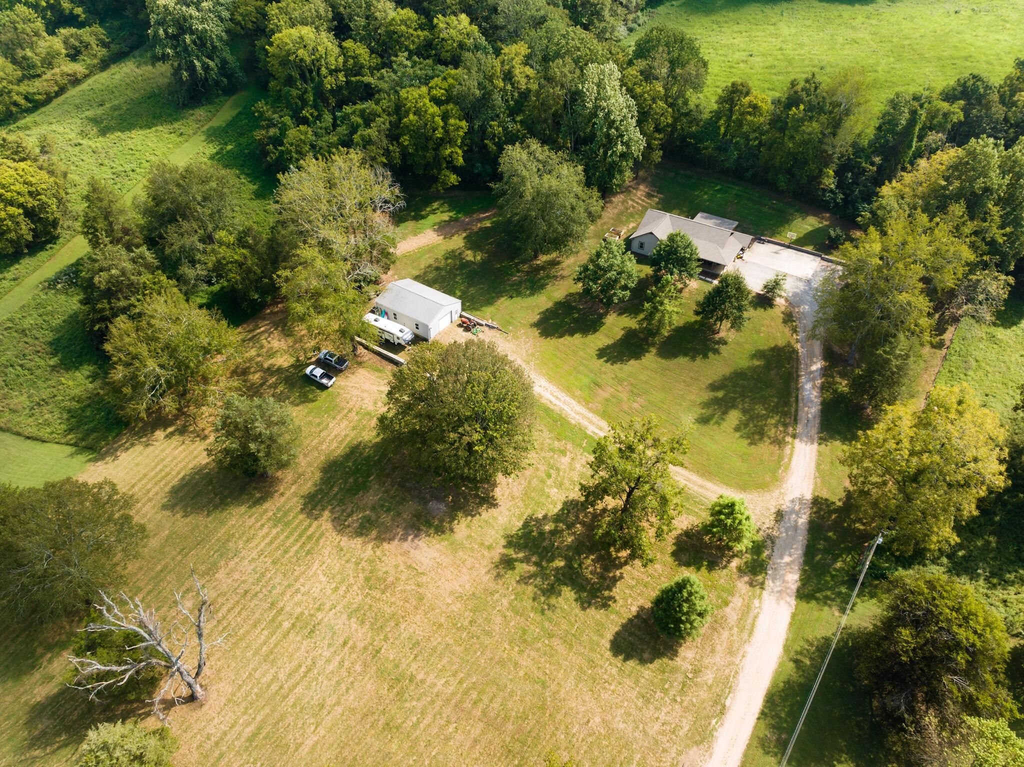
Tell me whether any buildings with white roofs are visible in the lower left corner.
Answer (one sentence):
No, no building with a white roof is visible in the lower left corner.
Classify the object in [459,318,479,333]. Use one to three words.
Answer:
work vehicle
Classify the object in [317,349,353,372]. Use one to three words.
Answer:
truck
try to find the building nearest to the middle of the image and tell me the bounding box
[374,278,462,341]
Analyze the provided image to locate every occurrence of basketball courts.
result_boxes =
[744,242,819,280]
